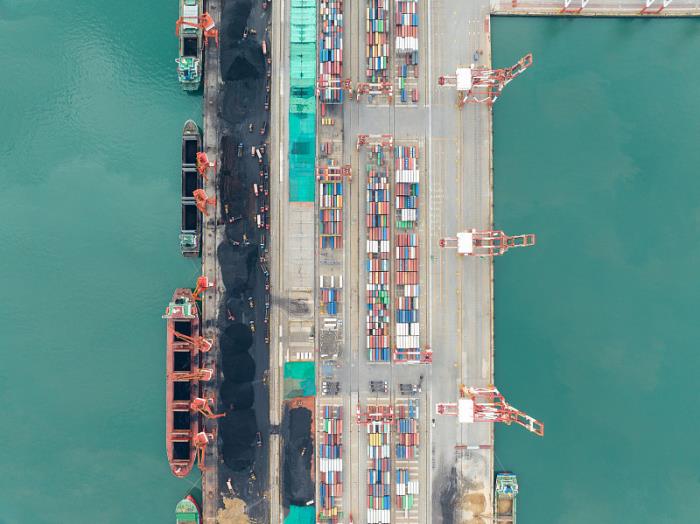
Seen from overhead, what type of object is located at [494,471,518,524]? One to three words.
ship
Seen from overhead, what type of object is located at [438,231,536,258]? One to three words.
container crane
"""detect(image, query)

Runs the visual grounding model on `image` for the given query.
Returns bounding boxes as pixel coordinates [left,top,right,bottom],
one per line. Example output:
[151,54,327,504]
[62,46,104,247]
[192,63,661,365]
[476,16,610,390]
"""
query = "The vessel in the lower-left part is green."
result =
[176,494,202,524]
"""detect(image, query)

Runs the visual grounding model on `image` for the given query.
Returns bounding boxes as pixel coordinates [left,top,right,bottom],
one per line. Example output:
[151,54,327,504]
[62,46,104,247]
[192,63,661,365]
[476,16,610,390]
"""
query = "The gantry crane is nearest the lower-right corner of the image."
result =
[438,382,543,436]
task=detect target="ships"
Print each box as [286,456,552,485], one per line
[176,494,202,524]
[494,471,518,524]
[176,0,202,93]
[180,120,202,258]
[162,289,202,477]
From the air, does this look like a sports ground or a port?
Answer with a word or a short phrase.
port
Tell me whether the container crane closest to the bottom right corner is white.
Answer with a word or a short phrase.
Yes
